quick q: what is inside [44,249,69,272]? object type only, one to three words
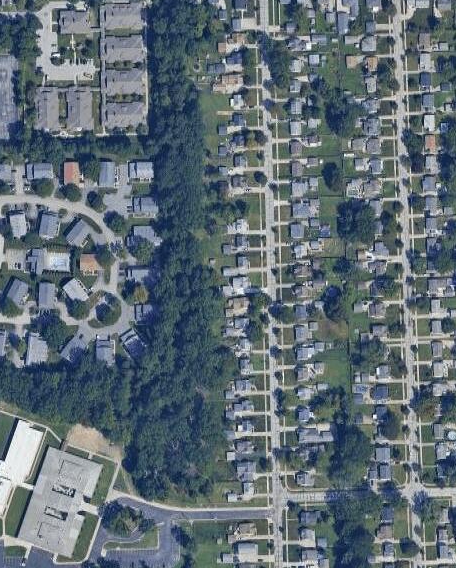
swimming pool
